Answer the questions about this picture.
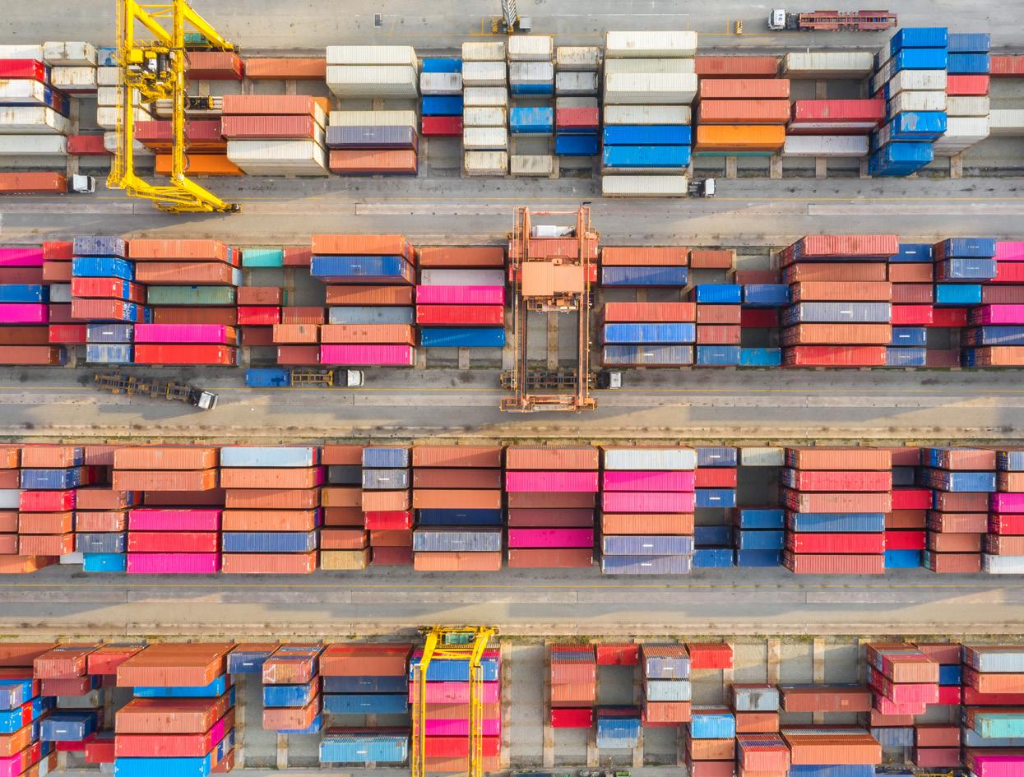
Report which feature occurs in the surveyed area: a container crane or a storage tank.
container crane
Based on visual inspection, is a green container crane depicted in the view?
No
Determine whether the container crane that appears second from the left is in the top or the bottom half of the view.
bottom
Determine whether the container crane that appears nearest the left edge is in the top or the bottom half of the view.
top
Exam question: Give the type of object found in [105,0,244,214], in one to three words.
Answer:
container crane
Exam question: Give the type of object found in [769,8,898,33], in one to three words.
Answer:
truck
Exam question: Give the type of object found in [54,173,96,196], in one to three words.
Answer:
truck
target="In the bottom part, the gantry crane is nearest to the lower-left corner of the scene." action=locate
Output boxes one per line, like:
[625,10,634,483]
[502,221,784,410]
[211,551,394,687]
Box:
[412,625,501,777]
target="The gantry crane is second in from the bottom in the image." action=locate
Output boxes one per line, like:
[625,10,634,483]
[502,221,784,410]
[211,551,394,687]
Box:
[498,199,596,414]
